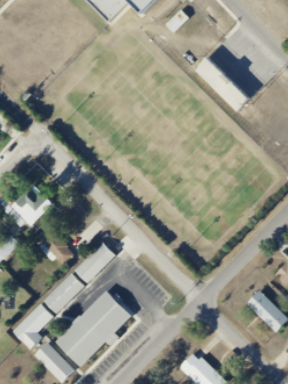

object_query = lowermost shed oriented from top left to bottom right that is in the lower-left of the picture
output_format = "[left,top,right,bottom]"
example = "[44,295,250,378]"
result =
[34,342,74,384]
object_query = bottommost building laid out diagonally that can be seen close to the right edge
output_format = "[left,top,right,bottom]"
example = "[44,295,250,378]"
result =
[248,293,286,332]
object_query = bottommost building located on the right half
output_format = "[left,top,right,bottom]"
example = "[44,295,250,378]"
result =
[180,355,224,384]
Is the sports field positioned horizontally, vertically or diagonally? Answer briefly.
diagonally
